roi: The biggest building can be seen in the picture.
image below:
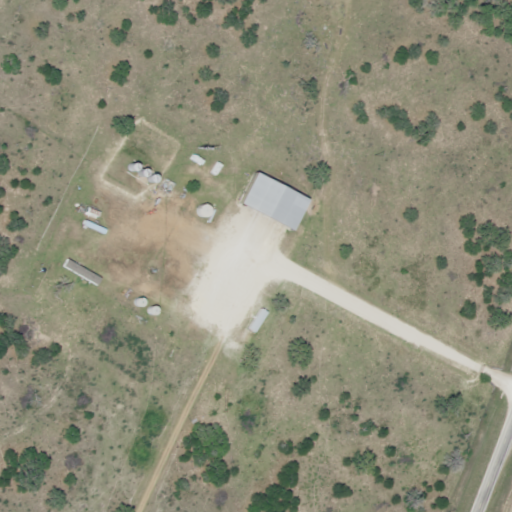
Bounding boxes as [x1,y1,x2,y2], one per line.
[241,172,311,230]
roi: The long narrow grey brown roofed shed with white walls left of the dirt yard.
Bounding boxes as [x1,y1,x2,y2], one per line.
[64,259,102,285]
